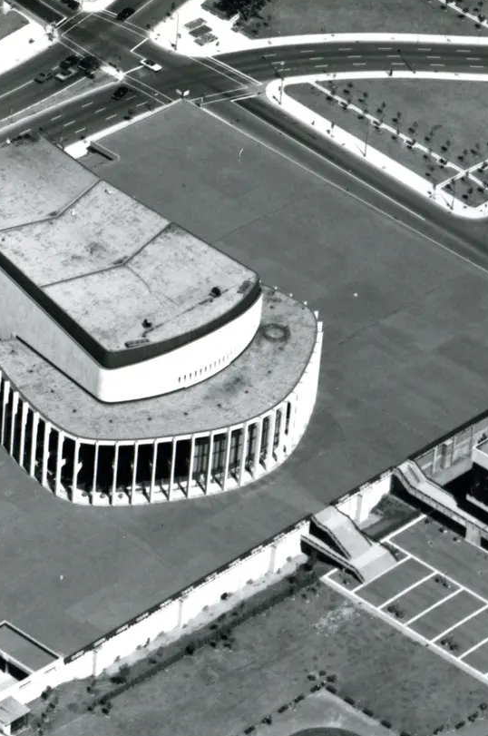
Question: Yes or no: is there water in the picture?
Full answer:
No, the picture contains no water.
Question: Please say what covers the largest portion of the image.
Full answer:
What you mostly see from above here is buildings.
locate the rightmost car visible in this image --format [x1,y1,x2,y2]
[139,59,164,74]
